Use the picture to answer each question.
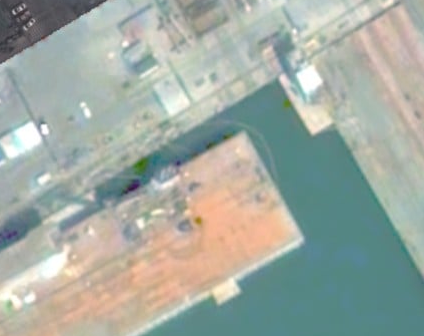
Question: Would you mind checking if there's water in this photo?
Yes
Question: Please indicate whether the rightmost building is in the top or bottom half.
top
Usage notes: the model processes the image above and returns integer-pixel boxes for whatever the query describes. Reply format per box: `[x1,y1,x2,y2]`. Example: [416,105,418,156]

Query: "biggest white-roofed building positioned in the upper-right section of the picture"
[295,65,322,99]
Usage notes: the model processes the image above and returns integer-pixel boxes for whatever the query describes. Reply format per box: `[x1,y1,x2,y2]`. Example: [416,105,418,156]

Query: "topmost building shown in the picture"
[118,7,161,46]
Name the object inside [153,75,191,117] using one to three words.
shed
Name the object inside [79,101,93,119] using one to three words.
vehicle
